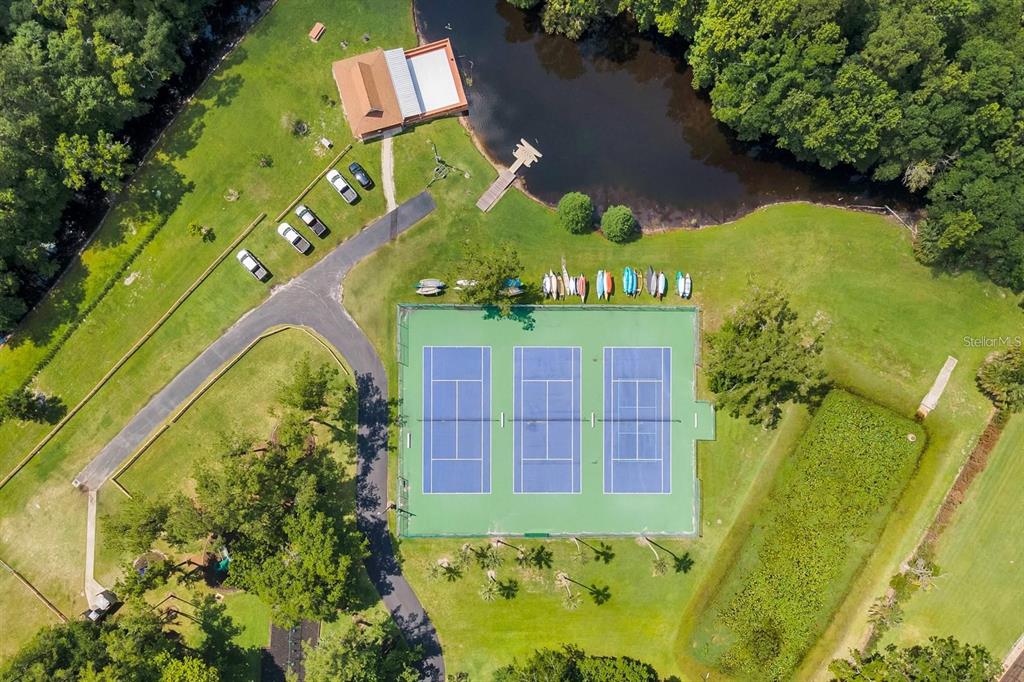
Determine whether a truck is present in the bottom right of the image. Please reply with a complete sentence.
No, no truck appears in the bottom right of the image.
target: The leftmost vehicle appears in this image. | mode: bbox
[236,248,267,283]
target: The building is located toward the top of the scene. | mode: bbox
[332,37,468,145]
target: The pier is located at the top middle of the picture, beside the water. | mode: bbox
[476,140,541,213]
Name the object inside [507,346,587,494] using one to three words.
tennis court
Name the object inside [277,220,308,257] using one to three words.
truck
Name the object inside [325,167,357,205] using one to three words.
truck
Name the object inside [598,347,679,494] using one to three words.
tennis court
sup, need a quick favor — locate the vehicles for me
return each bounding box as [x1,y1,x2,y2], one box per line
[349,161,373,189]
[325,167,357,205]
[277,220,308,257]
[236,248,267,283]
[295,202,326,239]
